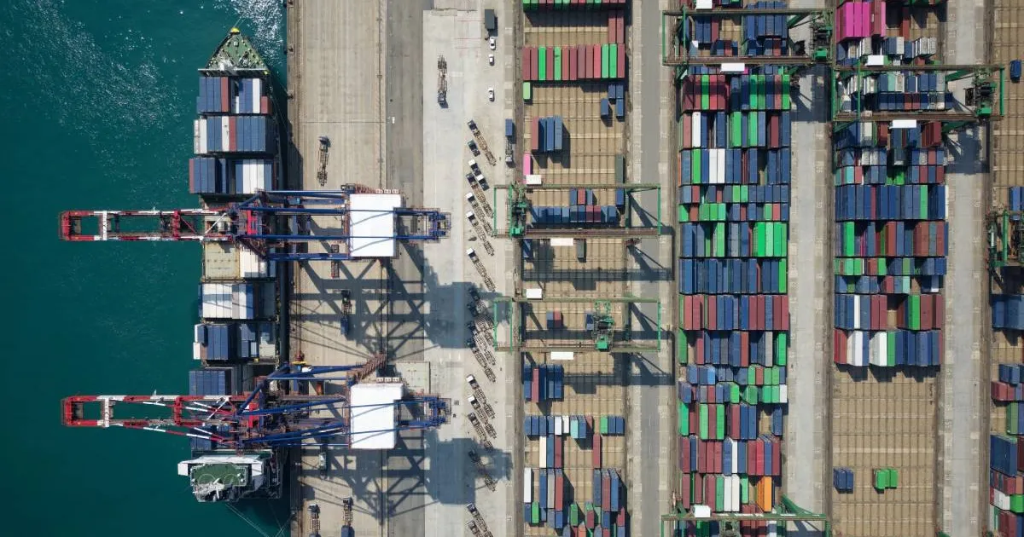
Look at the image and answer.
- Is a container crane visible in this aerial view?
Yes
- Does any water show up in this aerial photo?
Yes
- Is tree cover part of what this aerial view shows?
No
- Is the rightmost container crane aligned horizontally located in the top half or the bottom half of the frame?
top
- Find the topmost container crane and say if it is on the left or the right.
right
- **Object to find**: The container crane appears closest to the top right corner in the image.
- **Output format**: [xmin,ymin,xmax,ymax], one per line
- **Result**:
[828,56,1002,135]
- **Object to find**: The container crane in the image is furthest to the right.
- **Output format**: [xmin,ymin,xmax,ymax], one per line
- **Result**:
[986,210,1024,273]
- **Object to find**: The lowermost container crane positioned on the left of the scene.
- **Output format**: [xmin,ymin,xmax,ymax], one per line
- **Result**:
[61,342,460,452]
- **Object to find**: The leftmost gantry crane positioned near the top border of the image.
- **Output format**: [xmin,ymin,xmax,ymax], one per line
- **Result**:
[663,1,832,84]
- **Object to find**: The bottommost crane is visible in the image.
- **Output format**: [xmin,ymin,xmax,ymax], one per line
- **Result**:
[663,489,832,537]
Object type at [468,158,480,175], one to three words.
vehicle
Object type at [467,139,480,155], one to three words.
vehicle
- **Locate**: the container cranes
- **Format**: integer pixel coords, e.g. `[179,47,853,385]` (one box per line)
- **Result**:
[491,286,660,359]
[663,489,832,537]
[61,173,460,272]
[491,173,659,246]
[828,56,1002,135]
[61,342,460,452]
[986,210,1024,273]
[663,1,832,84]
